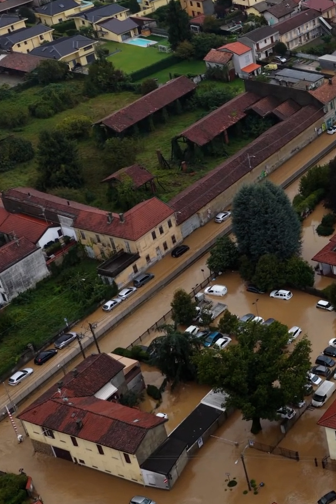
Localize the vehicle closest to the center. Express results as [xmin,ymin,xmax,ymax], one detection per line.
[169,244,191,258]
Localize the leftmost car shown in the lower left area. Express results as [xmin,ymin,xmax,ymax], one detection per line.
[4,368,36,386]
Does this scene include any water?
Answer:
Yes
